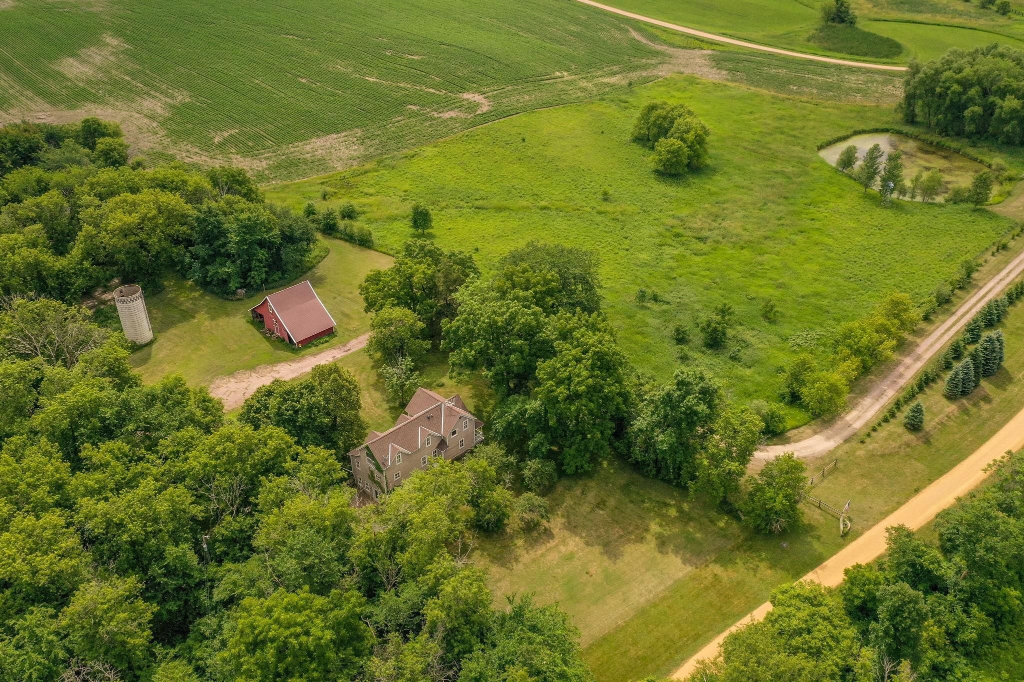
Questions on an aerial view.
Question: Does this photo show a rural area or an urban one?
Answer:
rural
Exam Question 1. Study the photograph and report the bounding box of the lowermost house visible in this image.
[338,387,486,498]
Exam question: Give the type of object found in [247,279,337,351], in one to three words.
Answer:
barn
